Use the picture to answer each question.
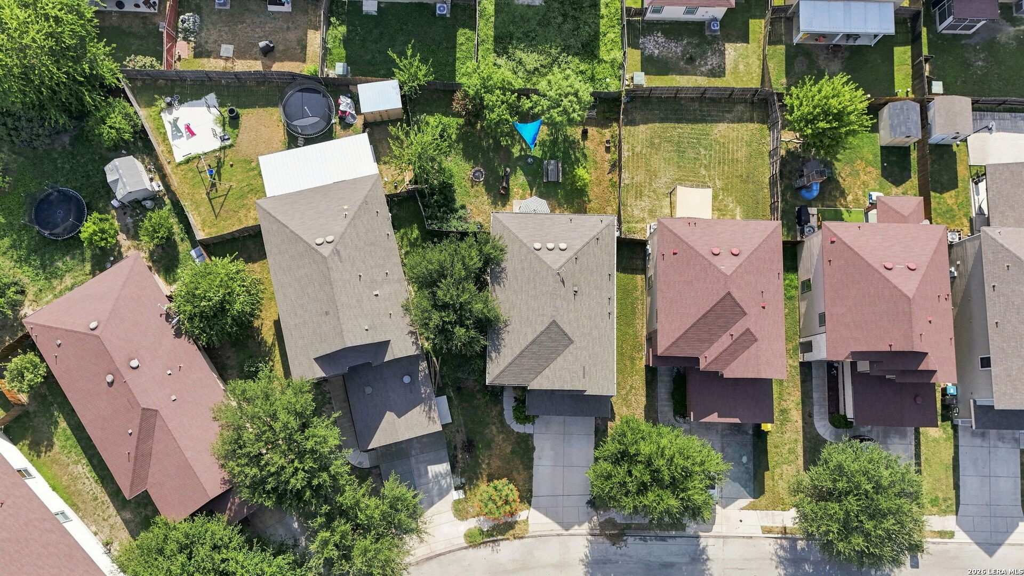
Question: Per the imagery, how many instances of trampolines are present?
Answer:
two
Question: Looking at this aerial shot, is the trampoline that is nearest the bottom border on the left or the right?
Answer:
left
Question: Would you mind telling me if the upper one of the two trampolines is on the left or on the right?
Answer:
left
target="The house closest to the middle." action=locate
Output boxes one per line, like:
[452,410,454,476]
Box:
[484,210,618,417]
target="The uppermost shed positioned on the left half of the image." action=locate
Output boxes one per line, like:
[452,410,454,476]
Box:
[357,80,403,123]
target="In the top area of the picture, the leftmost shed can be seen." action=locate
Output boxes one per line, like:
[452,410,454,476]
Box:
[104,156,161,203]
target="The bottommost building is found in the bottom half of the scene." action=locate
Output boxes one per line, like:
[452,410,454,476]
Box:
[0,430,123,576]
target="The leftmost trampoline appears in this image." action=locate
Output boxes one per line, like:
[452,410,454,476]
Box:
[21,182,90,243]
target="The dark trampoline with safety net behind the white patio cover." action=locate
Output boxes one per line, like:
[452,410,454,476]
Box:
[276,78,338,144]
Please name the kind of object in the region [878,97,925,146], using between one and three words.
shed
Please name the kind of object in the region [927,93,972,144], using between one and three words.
shed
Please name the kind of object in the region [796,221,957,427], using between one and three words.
house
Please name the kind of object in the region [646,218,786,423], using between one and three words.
house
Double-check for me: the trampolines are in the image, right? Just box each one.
[276,78,338,144]
[21,182,90,243]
